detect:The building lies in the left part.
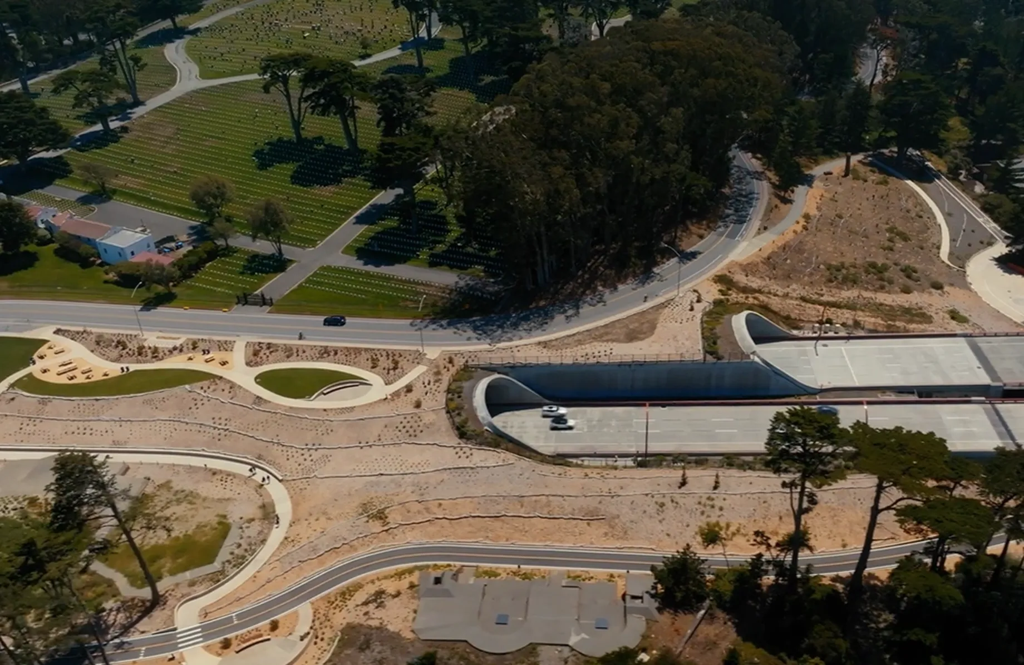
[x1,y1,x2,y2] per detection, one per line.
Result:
[39,208,157,265]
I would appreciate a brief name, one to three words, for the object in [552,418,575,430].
vehicle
